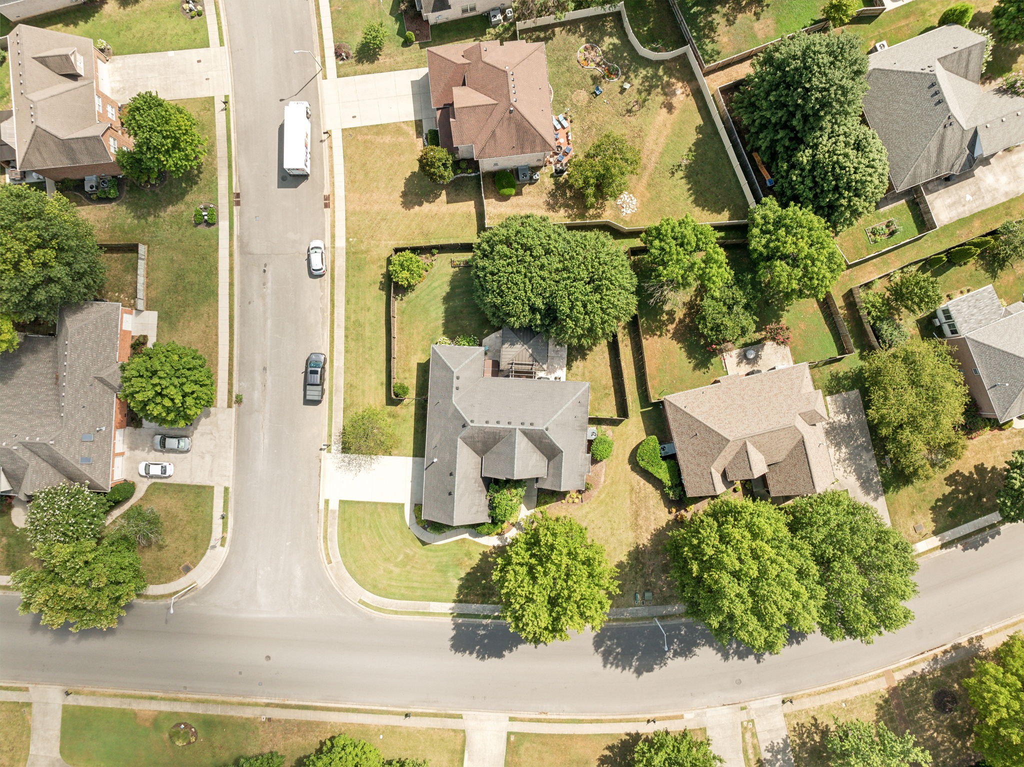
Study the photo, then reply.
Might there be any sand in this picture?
No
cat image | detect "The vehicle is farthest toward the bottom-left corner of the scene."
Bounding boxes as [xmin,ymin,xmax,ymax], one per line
[138,461,175,479]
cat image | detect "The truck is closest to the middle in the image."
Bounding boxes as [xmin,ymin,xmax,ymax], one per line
[305,352,327,400]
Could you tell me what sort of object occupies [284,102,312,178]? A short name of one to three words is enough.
truck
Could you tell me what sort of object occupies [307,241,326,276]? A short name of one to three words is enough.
car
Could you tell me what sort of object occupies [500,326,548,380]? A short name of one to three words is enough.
building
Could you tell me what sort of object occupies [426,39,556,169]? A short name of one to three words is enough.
house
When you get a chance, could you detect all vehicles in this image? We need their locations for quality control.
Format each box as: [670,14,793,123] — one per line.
[305,352,327,400]
[138,461,175,479]
[284,102,312,178]
[307,241,326,276]
[152,434,192,452]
